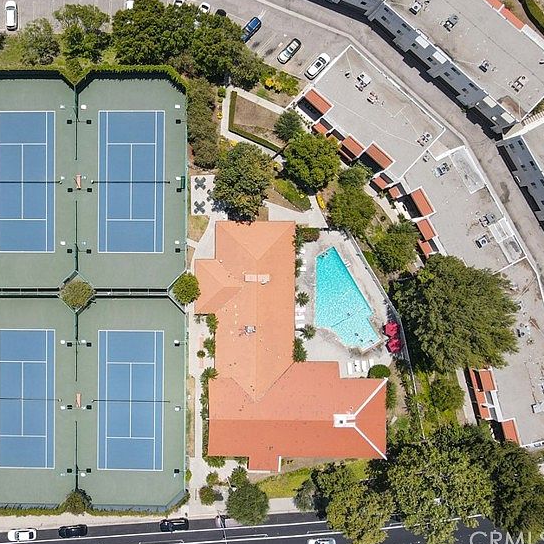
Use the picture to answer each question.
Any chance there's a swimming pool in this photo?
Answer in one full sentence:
Yes, the picture does show a swimming pool.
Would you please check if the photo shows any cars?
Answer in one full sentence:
Yes, the frame does contain a car.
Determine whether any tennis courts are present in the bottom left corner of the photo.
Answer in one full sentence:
Yes, you'll find a tennis court in the bottom left corner of the photo.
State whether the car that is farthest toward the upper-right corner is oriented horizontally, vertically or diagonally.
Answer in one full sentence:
The car that is farthest toward the upper-right corner has been laid out diagonally relative to the frame.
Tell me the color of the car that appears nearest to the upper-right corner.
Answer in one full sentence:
From above, the car that appears nearest to the upper-right corner appears white.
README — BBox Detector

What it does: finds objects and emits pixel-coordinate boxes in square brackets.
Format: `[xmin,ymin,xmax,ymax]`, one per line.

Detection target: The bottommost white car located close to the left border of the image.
[8,528,36,542]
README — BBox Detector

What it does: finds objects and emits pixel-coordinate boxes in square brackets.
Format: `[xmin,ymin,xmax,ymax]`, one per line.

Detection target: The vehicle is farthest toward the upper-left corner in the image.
[4,1,17,30]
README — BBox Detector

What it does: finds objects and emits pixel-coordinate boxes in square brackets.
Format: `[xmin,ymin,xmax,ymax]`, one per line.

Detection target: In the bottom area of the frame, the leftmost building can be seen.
[194,221,386,474]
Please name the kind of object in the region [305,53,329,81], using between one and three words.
car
